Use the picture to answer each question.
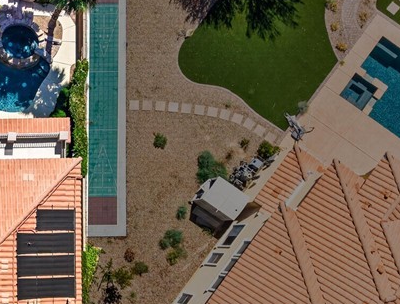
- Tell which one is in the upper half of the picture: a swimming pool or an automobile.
swimming pool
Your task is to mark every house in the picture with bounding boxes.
[174,144,400,304]
[0,116,84,304]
